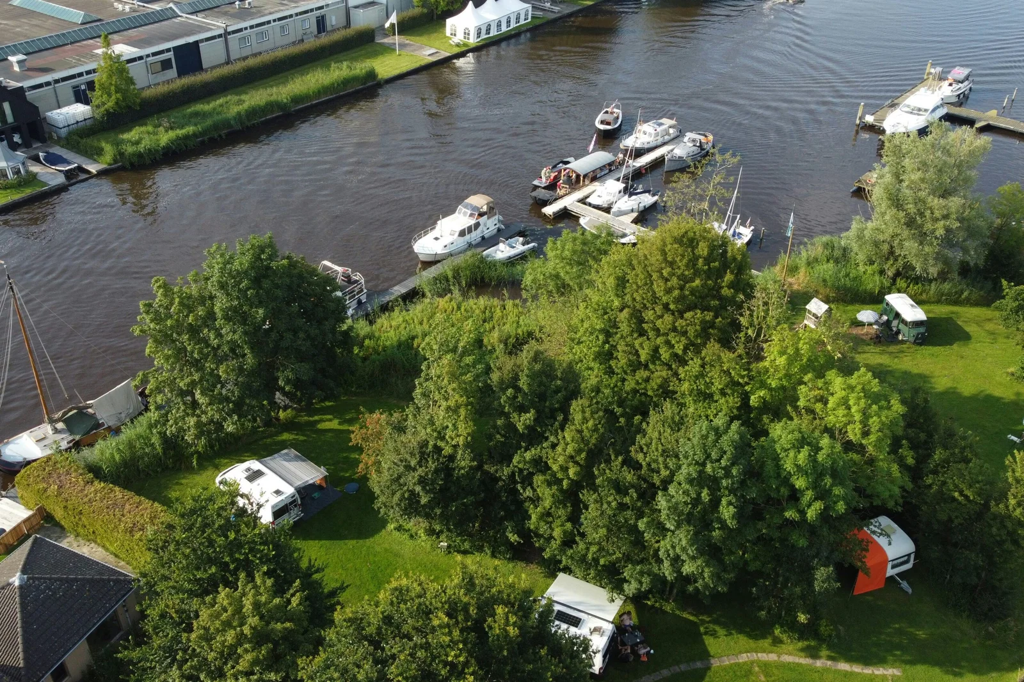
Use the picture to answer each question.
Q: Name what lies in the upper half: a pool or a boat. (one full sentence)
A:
What appears in the upper half is a boat.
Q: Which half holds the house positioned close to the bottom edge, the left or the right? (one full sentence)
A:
It is on the left.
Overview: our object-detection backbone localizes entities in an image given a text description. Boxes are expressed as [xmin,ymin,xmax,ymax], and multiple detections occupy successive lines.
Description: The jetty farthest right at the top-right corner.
[948,107,1024,136]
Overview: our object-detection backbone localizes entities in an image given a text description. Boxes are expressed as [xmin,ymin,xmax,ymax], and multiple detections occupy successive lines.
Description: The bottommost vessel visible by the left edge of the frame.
[0,285,153,478]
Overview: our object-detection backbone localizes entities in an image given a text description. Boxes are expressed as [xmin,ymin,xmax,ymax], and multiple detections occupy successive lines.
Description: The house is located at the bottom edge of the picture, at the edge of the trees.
[0,538,134,682]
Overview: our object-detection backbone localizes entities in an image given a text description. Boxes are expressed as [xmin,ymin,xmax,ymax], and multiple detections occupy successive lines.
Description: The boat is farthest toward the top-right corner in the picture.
[943,65,980,100]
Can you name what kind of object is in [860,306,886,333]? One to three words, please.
umbrella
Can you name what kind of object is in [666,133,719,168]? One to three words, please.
boat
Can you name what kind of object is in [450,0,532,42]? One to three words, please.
tent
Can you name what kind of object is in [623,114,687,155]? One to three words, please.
boat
